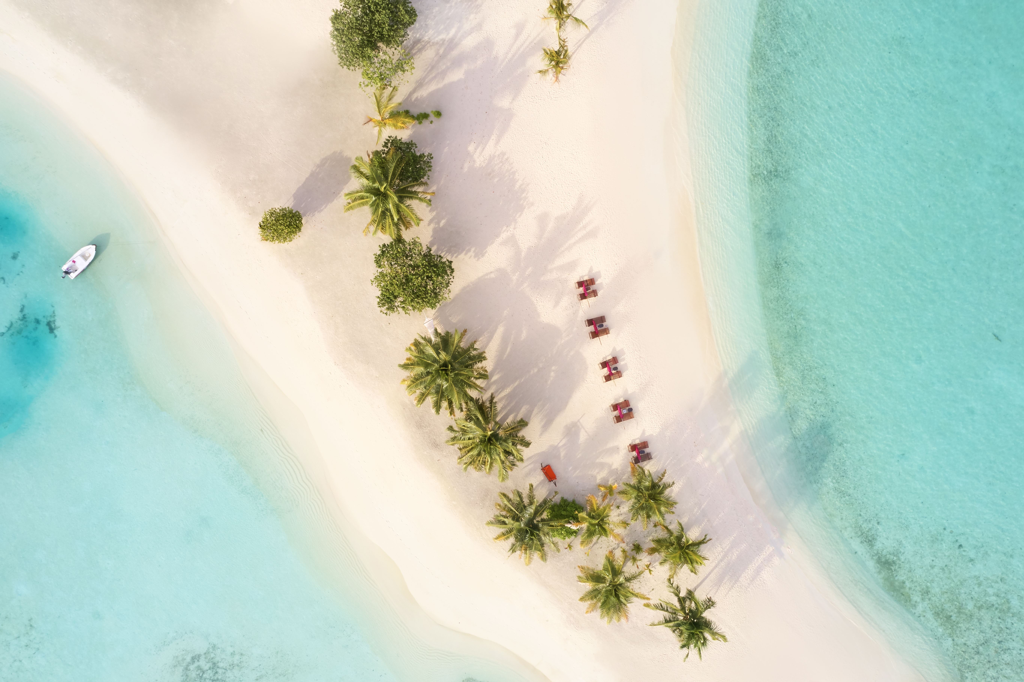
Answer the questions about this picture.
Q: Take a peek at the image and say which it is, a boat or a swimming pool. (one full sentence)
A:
Looking from above, you can make out a boat.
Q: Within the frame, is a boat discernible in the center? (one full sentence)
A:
No, the scene shows no boat in the center.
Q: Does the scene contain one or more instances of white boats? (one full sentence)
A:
Yes, this view includes a white boat.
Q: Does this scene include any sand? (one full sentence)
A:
Yes, the picture does contain sand.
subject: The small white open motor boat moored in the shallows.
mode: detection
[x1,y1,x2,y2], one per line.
[62,244,98,281]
